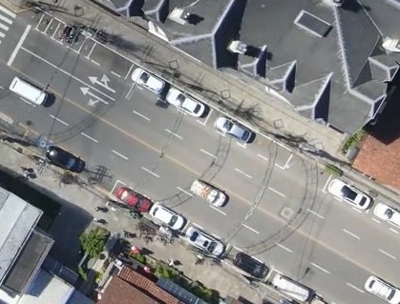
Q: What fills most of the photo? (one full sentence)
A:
For the most part, this view shows paved ground.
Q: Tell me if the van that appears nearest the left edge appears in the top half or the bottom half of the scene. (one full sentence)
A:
You can find the van that appears nearest the left edge in the top half.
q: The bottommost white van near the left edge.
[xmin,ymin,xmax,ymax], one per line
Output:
[4,74,50,108]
